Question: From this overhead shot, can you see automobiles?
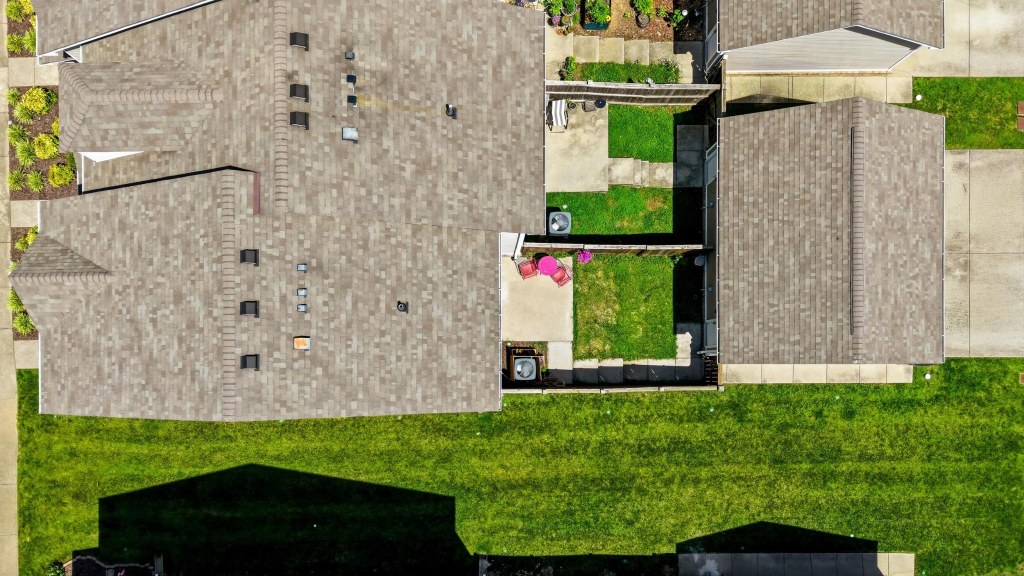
No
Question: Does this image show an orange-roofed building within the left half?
No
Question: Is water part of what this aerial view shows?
No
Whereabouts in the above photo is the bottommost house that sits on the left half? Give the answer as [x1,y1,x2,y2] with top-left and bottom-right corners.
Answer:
[9,172,503,421]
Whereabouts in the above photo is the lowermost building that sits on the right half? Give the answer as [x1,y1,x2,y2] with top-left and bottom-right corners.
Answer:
[683,97,946,364]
